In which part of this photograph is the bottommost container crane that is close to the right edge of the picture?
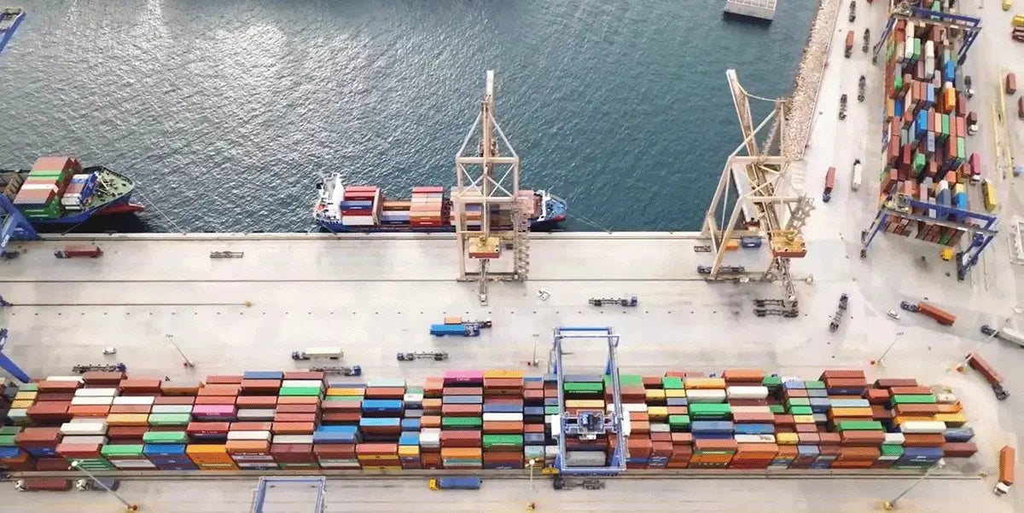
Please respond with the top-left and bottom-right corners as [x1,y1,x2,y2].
[861,204,994,287]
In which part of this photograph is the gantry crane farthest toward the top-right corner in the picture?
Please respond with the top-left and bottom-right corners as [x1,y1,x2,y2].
[878,6,984,80]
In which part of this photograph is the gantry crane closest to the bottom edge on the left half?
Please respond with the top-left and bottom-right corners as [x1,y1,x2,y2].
[244,469,326,513]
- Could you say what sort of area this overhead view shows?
port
